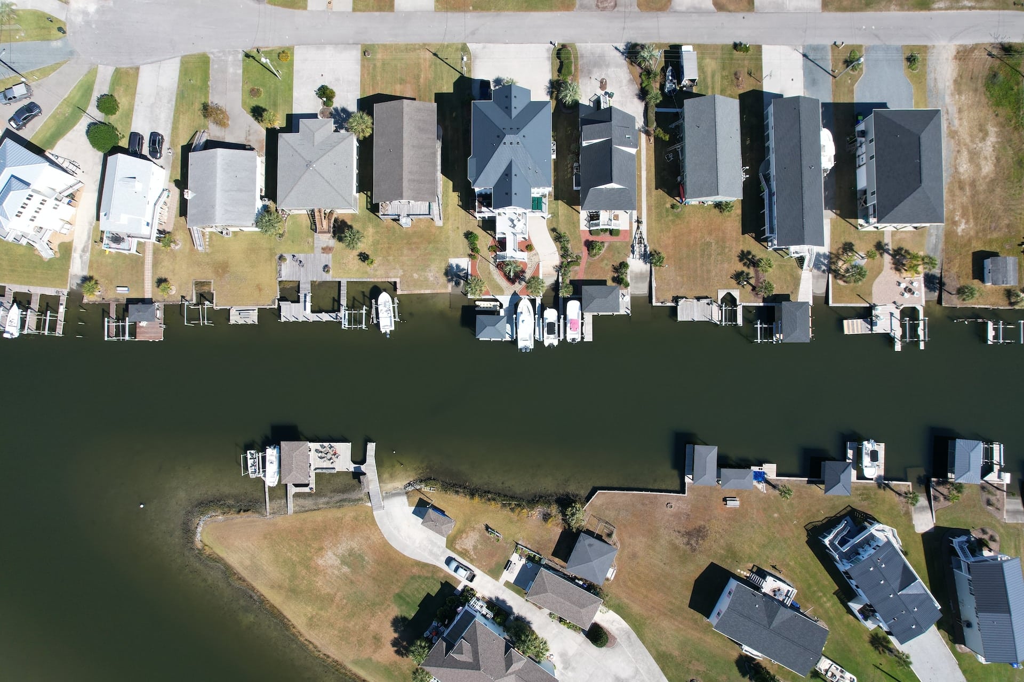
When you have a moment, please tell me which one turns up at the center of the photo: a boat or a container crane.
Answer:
boat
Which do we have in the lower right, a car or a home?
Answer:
home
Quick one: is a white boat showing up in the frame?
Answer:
Yes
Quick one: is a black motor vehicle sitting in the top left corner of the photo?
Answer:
Yes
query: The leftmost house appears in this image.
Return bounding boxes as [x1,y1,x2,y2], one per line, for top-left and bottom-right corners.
[0,137,85,259]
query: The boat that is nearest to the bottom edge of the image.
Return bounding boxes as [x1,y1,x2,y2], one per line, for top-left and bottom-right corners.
[814,654,855,682]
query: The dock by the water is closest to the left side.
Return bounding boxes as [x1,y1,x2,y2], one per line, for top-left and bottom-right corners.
[0,284,75,336]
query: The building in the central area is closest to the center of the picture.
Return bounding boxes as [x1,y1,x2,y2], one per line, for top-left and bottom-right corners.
[476,315,507,338]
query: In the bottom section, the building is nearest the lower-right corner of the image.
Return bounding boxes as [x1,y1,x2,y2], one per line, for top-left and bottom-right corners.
[949,535,1024,665]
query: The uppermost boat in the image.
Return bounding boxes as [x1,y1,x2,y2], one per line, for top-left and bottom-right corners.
[665,65,677,99]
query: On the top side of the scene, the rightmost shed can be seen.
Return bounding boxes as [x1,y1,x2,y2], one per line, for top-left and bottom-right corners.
[982,256,1018,285]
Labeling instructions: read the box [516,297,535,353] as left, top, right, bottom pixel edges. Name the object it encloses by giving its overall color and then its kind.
white boat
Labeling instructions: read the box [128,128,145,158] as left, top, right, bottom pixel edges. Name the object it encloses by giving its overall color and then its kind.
black car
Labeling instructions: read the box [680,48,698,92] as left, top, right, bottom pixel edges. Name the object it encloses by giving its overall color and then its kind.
white vehicle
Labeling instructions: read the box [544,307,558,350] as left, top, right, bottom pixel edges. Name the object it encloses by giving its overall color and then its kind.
white boat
